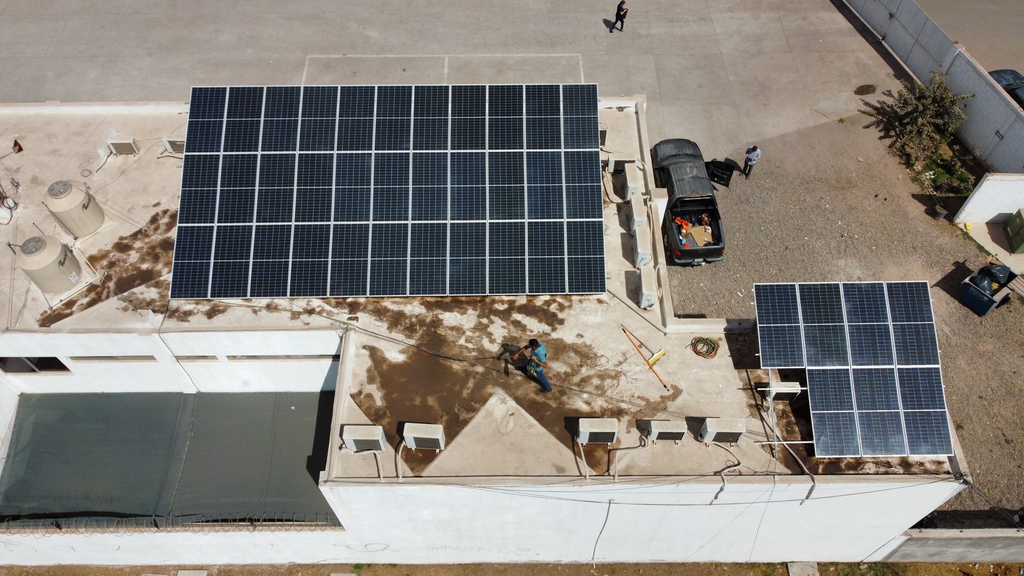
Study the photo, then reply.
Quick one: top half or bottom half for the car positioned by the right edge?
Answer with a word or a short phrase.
top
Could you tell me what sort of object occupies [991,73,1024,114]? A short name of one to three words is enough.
car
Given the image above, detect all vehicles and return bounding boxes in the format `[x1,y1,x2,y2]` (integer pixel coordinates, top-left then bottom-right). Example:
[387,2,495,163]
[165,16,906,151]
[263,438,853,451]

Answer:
[652,140,739,269]
[991,73,1024,114]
